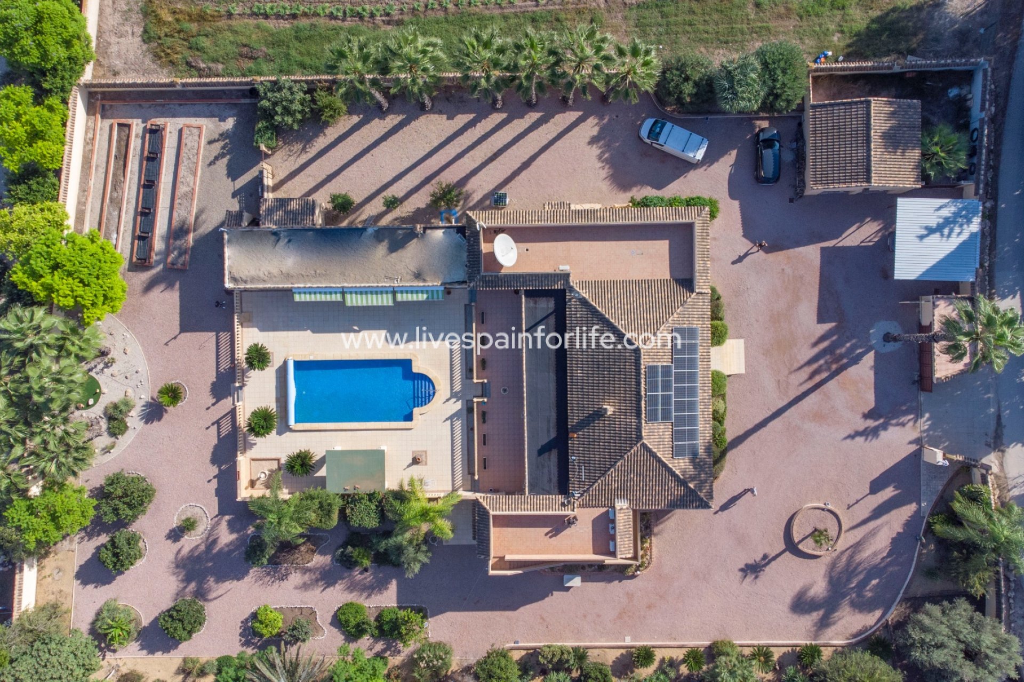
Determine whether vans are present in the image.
Yes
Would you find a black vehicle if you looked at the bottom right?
No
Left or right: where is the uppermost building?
right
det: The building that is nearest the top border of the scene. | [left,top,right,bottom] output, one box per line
[799,96,923,195]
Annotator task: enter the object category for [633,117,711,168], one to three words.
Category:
van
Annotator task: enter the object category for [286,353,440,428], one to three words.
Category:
swimming pool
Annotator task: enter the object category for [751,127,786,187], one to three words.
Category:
car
